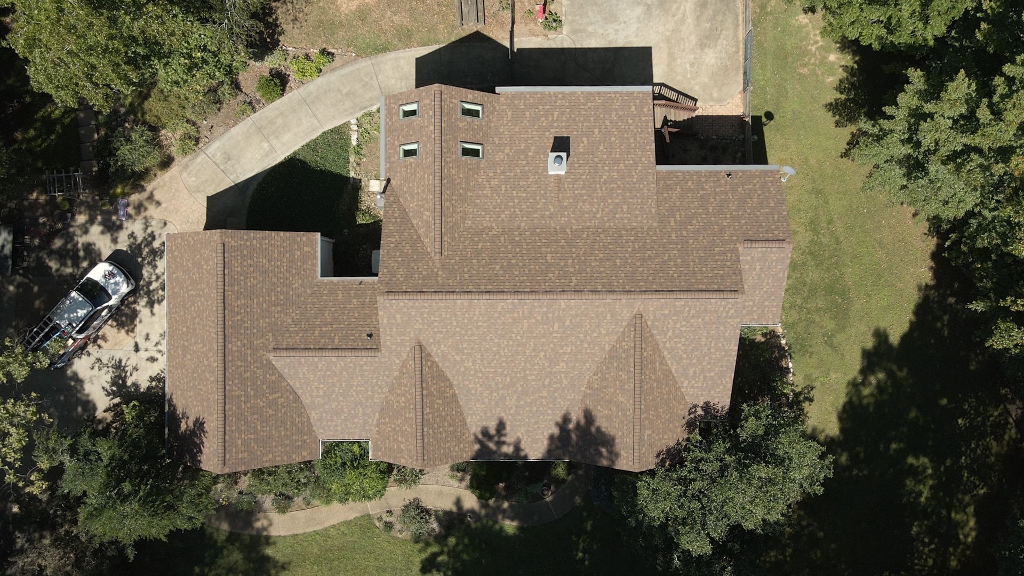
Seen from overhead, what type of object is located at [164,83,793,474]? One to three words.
house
